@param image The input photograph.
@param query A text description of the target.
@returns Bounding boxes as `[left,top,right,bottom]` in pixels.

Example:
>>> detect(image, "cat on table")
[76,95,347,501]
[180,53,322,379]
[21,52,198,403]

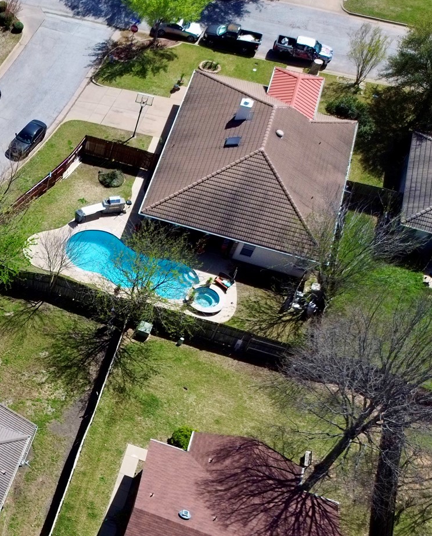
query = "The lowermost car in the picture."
[8,122,50,159]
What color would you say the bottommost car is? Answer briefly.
black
